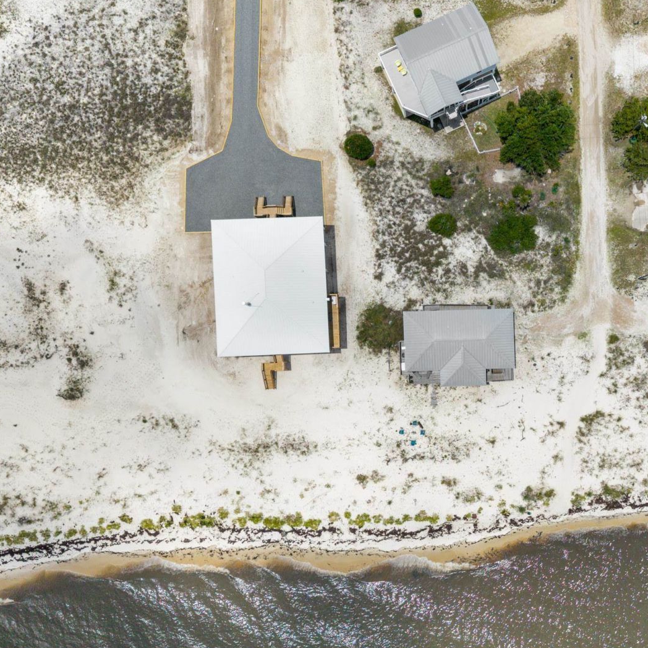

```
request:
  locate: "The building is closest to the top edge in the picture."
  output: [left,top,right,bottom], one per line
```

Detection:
[378,2,501,123]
